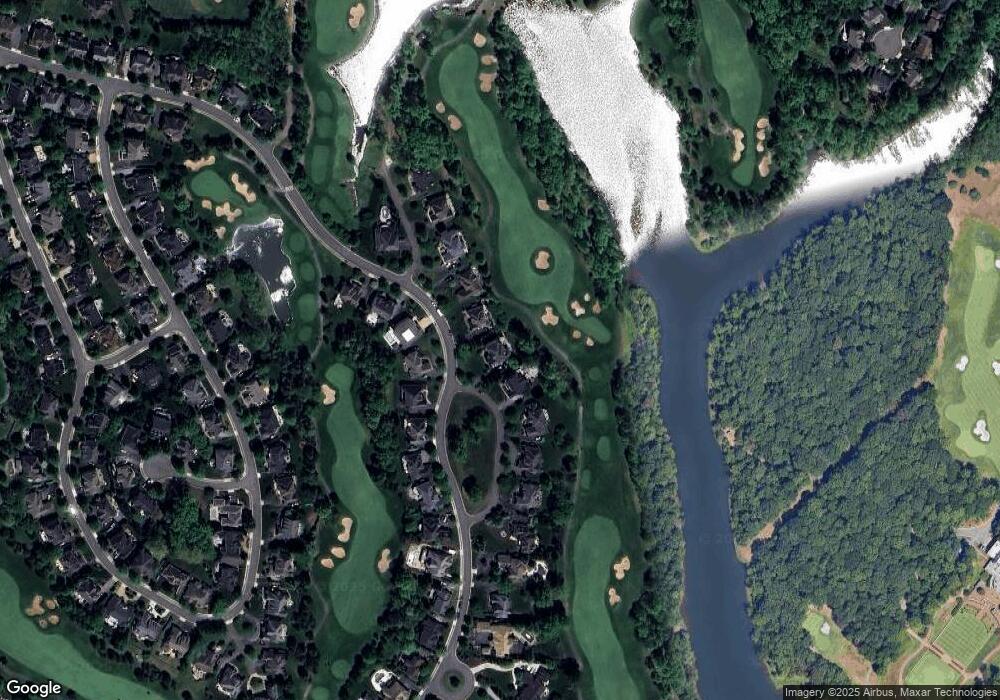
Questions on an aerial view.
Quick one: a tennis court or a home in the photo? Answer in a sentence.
Looking from above, you can make out a home.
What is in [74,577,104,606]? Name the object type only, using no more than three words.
house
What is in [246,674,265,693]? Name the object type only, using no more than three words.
swimming pool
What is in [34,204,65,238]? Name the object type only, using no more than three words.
house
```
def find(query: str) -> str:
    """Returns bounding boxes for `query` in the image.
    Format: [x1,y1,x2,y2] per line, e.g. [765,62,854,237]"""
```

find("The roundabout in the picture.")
[431,658,476,700]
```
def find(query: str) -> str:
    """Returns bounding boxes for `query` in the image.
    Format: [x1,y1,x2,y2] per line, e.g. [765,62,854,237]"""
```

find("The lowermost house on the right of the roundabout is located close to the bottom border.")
[512,665,560,700]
